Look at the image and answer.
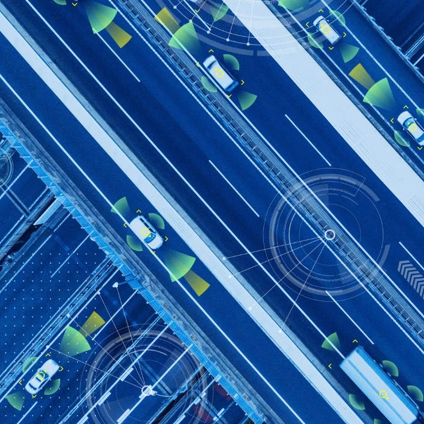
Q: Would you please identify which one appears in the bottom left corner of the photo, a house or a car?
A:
car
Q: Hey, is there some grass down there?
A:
No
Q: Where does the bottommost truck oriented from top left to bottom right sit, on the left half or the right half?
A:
right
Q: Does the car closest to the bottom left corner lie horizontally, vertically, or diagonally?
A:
diagonally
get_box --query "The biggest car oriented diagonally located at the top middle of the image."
[203,55,239,93]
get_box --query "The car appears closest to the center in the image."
[128,213,166,250]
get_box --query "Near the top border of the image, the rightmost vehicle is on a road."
[313,15,342,45]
